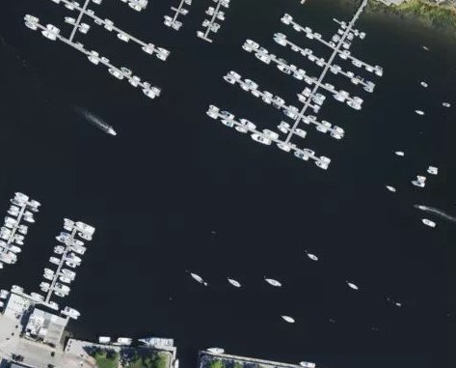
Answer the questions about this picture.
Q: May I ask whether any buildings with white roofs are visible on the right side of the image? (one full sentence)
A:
No, no building with a white roof appears on the right side of the image.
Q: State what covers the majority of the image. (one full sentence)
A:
For the most part, this view shows water.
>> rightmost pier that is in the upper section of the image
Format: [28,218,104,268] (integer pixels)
[213,0,376,162]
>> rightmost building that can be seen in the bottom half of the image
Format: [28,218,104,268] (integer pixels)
[43,316,69,348]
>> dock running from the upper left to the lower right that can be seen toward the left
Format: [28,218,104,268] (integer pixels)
[33,0,165,96]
